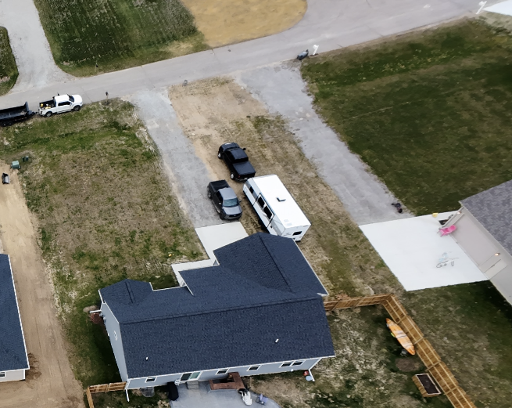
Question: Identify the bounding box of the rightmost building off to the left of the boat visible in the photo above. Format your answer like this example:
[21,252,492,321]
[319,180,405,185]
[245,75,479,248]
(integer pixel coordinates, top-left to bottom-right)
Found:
[97,231,336,403]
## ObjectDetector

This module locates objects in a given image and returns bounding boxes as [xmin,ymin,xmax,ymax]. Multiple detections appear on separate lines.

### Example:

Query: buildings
[441,182,512,304]
[0,252,29,384]
[97,231,336,403]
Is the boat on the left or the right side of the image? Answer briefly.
right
